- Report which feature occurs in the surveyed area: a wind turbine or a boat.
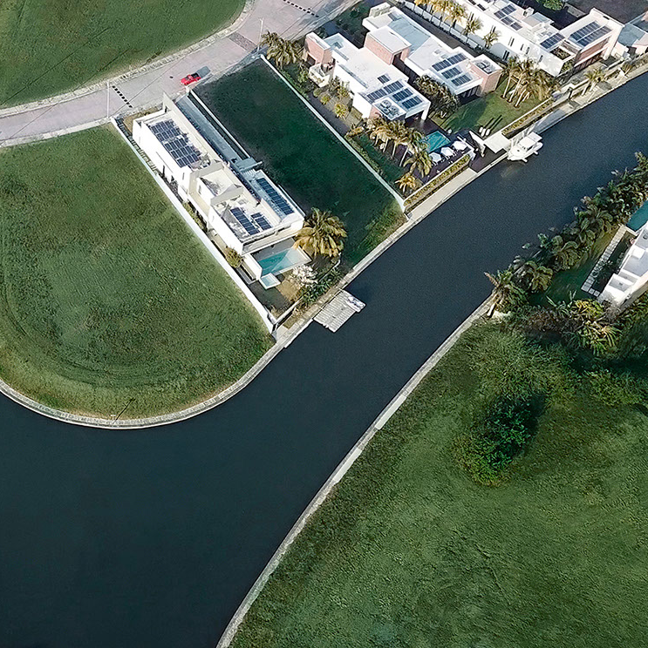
boat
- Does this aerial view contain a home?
Yes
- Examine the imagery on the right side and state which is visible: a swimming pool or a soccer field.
swimming pool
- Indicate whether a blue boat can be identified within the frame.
No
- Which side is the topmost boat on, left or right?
right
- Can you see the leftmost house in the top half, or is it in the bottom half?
top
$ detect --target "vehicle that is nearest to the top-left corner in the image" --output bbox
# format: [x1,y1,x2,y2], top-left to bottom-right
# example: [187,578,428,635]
[178,66,204,85]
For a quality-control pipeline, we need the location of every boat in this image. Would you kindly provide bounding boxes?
[346,298,366,314]
[508,122,548,158]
